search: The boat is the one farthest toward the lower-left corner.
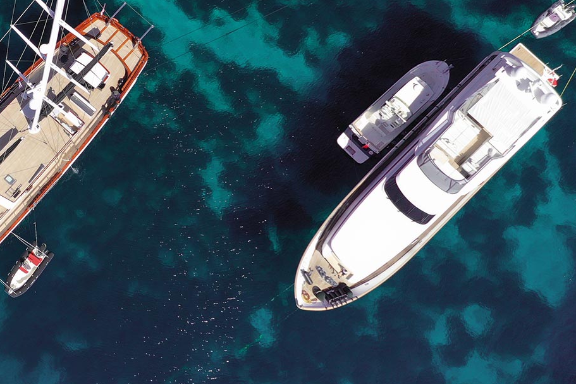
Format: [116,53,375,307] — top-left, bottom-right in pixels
[4,242,55,299]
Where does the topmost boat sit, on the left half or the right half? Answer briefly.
right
